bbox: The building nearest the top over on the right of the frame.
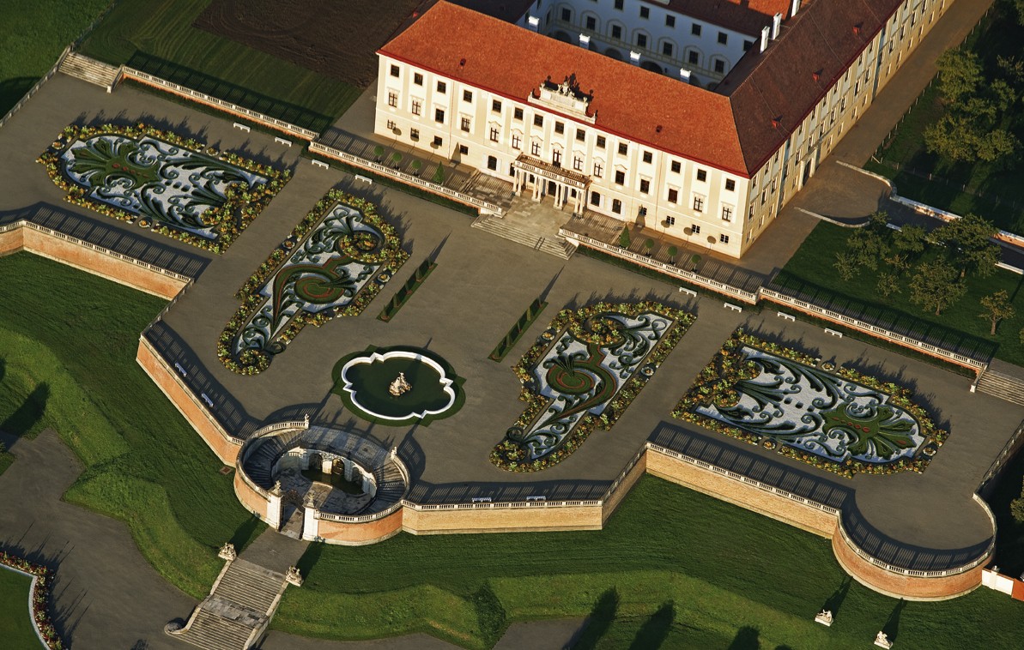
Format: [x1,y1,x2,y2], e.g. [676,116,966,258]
[370,0,960,260]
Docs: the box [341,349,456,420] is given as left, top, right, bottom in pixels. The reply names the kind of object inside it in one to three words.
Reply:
fountain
